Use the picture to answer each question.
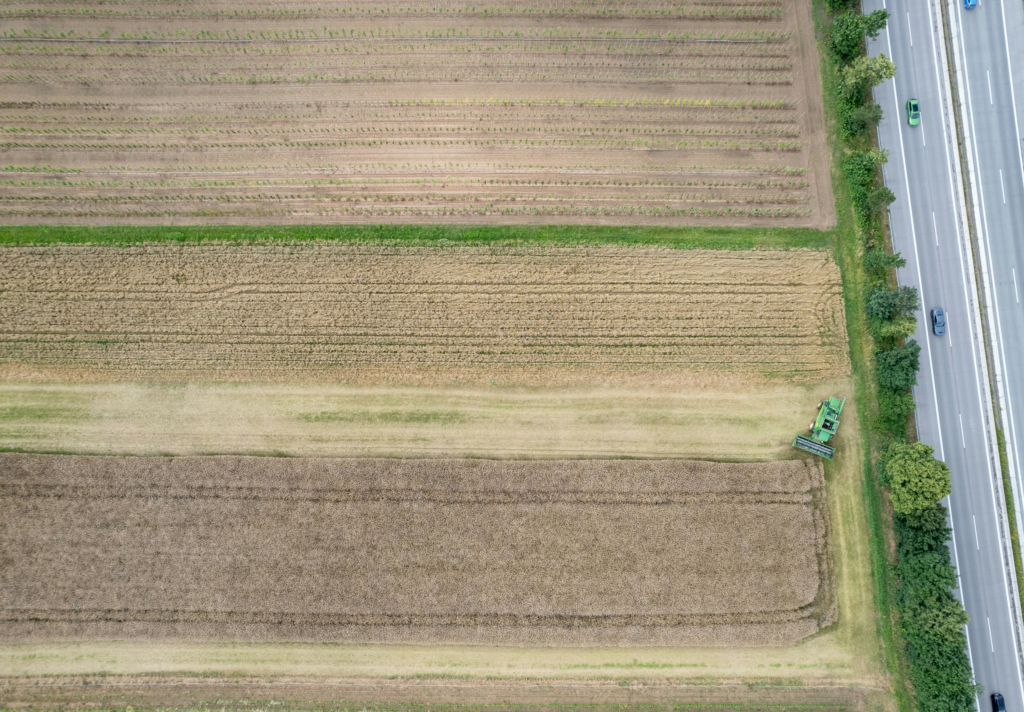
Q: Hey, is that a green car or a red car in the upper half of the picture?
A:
green car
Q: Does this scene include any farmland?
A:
Yes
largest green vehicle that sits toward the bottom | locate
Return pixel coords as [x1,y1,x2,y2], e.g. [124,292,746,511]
[790,394,846,462]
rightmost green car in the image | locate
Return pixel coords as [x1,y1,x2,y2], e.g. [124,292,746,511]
[905,99,922,126]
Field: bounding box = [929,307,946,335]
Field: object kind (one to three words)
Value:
car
